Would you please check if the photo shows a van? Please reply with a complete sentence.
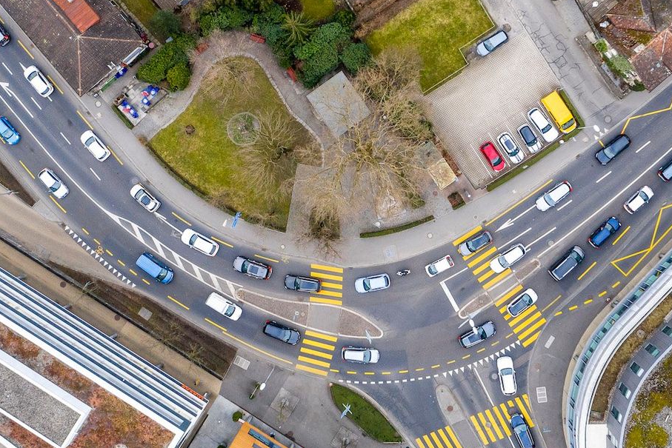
Yes, the image includes a van.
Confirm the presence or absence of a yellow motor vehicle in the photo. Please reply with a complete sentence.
Yes, this view includes a yellow motor vehicle.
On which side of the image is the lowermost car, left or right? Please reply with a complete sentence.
The lowermost car appears in the right half of the scene.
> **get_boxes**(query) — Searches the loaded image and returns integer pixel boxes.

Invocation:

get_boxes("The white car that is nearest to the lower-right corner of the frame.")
[498,357,515,394]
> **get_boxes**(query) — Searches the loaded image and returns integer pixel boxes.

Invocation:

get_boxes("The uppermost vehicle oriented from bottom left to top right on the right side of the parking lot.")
[596,134,630,164]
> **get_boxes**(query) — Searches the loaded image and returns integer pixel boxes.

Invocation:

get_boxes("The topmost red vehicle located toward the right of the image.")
[480,141,505,171]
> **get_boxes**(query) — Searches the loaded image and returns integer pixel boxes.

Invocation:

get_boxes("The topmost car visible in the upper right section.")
[475,30,509,56]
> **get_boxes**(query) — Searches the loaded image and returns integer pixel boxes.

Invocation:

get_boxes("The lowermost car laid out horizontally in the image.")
[341,347,378,363]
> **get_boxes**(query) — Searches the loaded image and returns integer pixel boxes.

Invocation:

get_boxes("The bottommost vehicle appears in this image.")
[511,413,536,448]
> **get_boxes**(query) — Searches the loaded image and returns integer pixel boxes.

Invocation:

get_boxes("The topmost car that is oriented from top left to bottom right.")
[25,64,54,97]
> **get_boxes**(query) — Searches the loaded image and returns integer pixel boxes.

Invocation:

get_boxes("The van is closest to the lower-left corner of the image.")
[134,252,174,283]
